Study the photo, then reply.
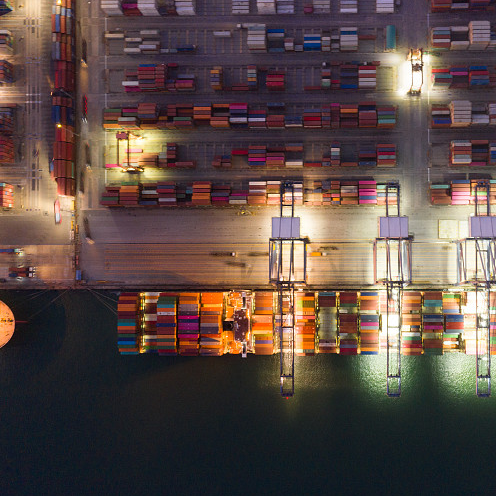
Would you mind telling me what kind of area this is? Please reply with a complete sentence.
The area seen from above is a port.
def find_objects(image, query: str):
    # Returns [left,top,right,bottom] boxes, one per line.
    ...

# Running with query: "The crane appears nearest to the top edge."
[401,48,423,105]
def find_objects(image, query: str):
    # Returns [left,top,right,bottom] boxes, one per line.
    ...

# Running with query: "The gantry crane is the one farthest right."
[448,181,496,398]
